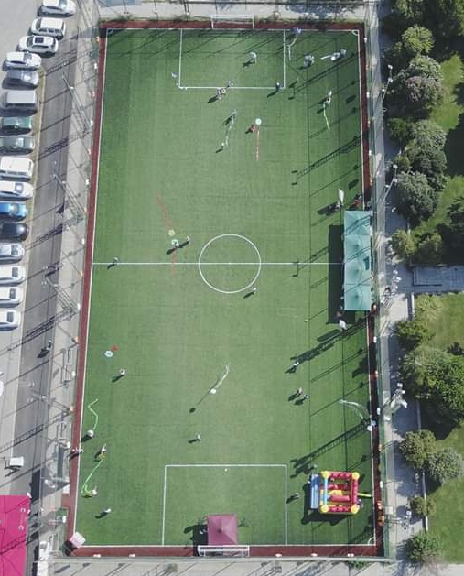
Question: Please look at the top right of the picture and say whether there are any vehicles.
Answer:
No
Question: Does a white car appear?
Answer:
Yes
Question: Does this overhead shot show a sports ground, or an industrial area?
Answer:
sports ground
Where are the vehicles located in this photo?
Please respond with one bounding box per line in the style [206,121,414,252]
[3,51,41,69]
[0,157,34,178]
[0,288,23,306]
[2,68,39,88]
[0,220,28,240]
[32,18,65,37]
[0,91,38,111]
[0,116,32,134]
[41,0,75,17]
[18,34,57,55]
[0,133,35,154]
[0,181,34,199]
[0,244,23,262]
[0,201,28,221]
[0,267,25,285]
[0,310,20,330]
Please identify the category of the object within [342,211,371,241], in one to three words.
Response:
gazebo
